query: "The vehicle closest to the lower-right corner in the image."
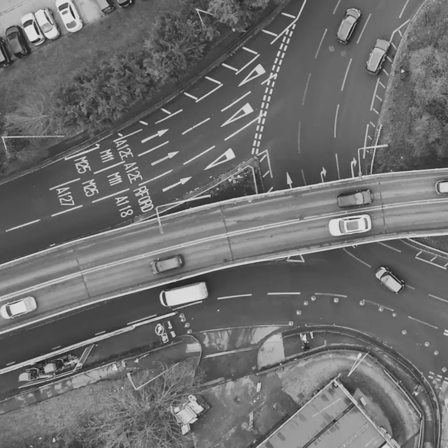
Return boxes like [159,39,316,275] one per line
[374,264,406,296]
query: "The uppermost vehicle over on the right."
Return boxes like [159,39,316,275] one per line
[335,8,362,45]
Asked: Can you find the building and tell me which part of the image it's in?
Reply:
bottom right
